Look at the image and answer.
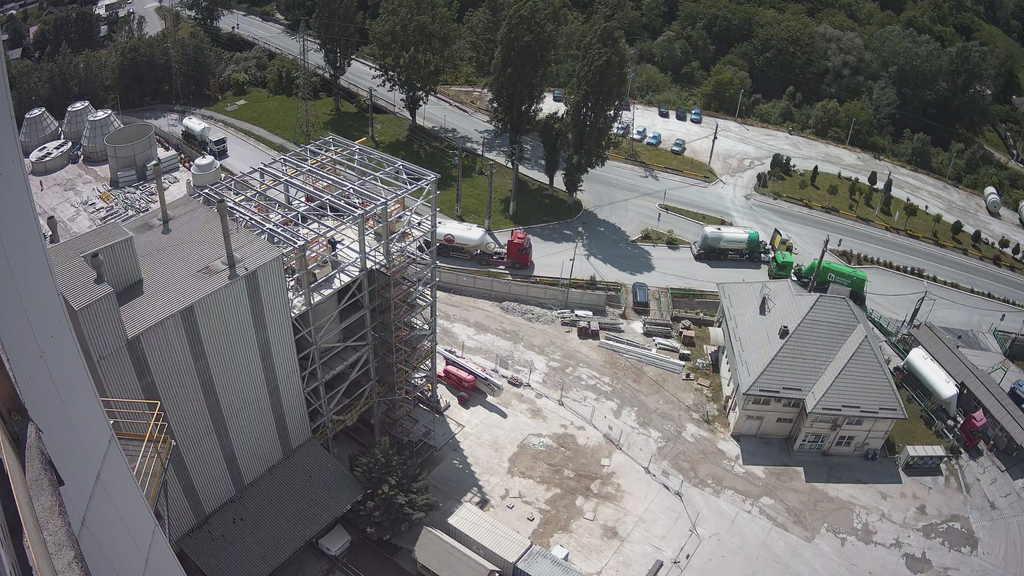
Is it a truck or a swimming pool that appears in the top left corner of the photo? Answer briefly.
truck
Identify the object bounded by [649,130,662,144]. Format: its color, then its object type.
blue vehicle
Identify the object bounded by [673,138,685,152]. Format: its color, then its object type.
gray vehicle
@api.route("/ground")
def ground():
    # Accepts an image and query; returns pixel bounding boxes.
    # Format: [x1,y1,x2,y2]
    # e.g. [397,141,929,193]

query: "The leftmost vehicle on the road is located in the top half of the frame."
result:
[182,122,220,157]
